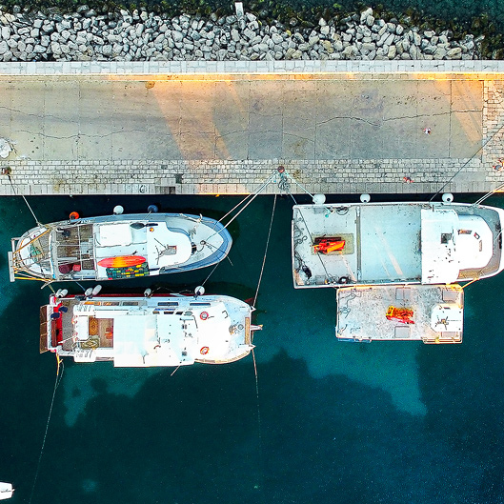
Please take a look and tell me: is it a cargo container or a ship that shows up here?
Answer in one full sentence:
There is a ship in the scene.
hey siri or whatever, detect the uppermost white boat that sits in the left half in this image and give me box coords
[8,213,232,282]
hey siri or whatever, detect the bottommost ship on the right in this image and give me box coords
[336,283,463,344]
